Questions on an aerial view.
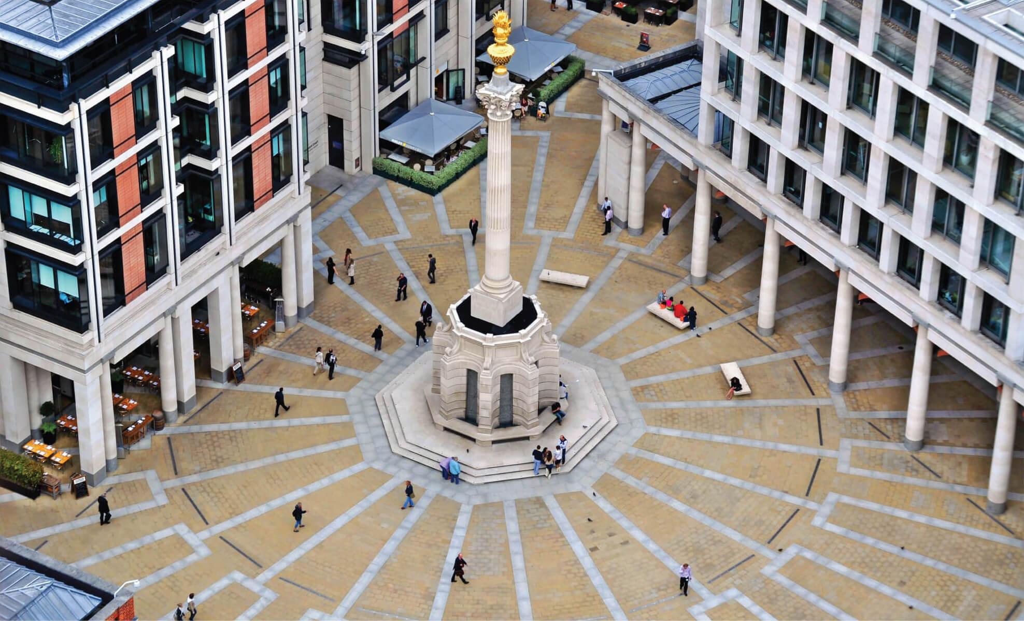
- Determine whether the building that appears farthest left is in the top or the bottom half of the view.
bottom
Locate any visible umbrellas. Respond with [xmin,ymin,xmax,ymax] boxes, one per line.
[506,26,582,96]
[377,100,486,165]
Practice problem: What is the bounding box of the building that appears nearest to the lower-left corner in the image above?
[0,539,133,621]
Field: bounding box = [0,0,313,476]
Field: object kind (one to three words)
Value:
building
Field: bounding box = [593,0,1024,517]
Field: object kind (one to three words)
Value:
building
